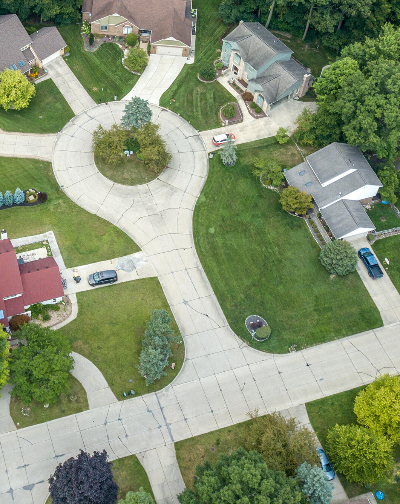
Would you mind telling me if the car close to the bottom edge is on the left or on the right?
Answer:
right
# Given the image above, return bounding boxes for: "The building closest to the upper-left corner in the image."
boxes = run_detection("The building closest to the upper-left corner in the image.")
[0,15,69,76]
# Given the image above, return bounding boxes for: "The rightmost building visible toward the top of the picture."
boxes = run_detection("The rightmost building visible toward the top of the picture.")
[283,143,382,243]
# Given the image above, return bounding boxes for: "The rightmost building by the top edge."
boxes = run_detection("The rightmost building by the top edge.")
[220,19,316,112]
